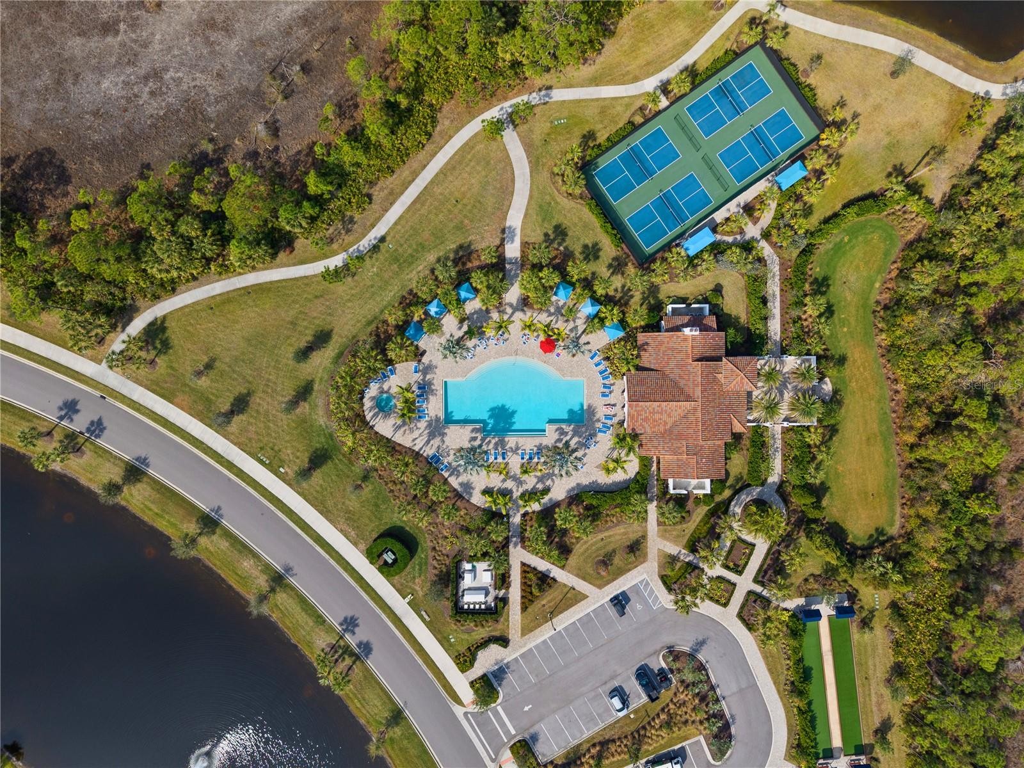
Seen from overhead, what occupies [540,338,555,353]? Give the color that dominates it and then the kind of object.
red umbrella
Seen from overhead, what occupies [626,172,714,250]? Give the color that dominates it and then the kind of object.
blue sports court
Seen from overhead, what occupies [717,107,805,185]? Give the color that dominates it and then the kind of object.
blue sports court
